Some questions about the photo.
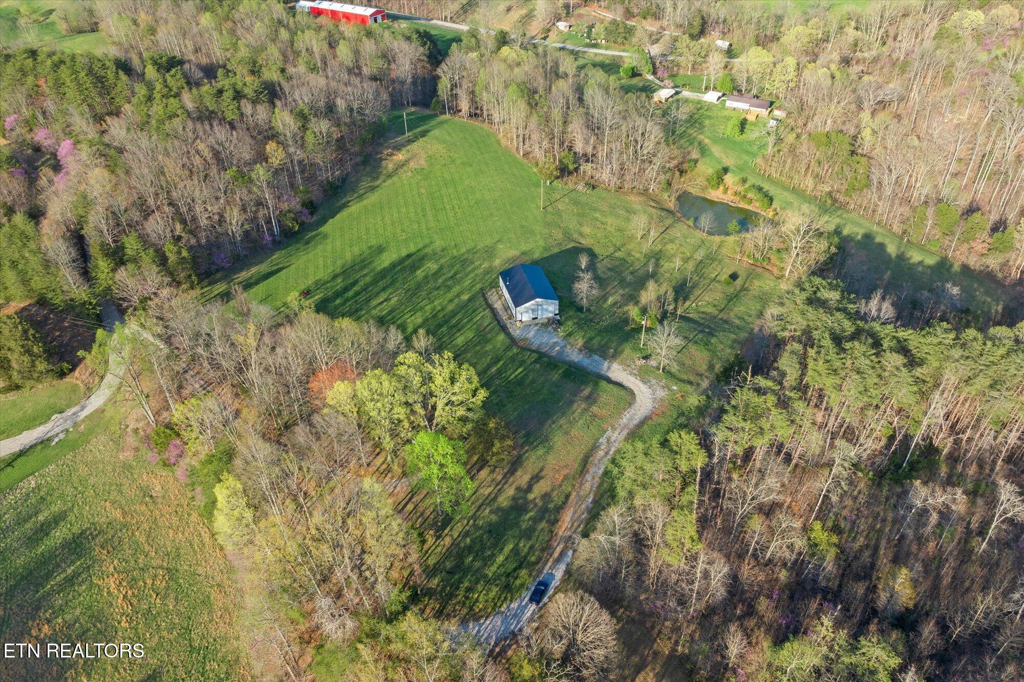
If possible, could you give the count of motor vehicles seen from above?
one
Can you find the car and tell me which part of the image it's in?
bottom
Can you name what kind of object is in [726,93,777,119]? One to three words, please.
house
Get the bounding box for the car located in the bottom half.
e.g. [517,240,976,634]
[529,578,549,607]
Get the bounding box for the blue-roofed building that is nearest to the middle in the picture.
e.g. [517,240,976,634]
[499,266,560,322]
